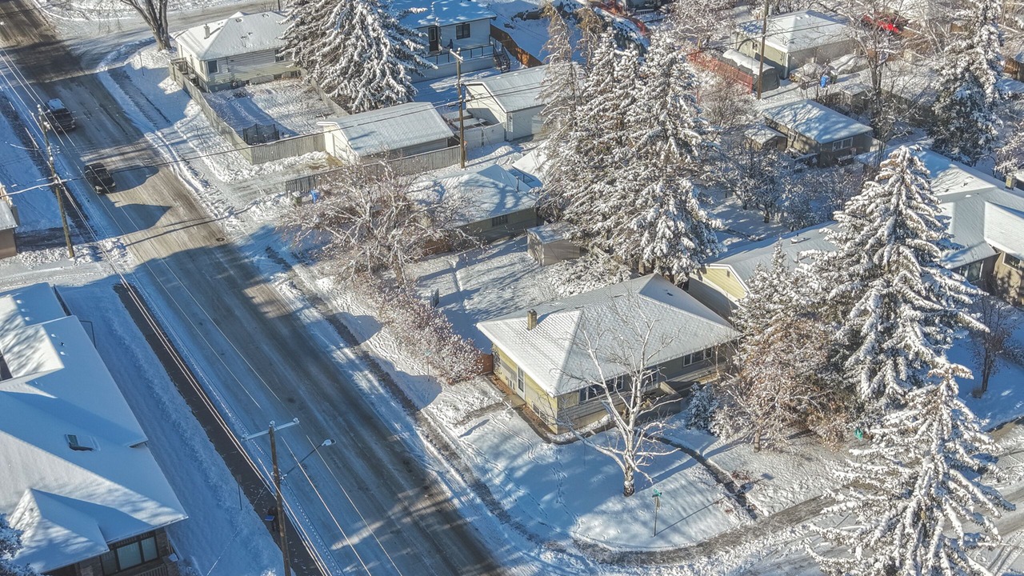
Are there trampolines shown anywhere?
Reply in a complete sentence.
Yes, you can see a trampoline in this photo.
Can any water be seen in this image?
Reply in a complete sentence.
No, the scene doesn't show any water.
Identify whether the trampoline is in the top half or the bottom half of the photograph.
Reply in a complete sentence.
The trampoline is in the top half of the image.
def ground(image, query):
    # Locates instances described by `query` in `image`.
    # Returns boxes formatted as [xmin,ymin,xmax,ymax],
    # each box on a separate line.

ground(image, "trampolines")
[241,111,279,145]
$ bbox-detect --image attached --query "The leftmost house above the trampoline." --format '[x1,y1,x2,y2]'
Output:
[167,0,313,88]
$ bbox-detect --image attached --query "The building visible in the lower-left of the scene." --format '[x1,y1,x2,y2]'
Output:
[0,278,194,576]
